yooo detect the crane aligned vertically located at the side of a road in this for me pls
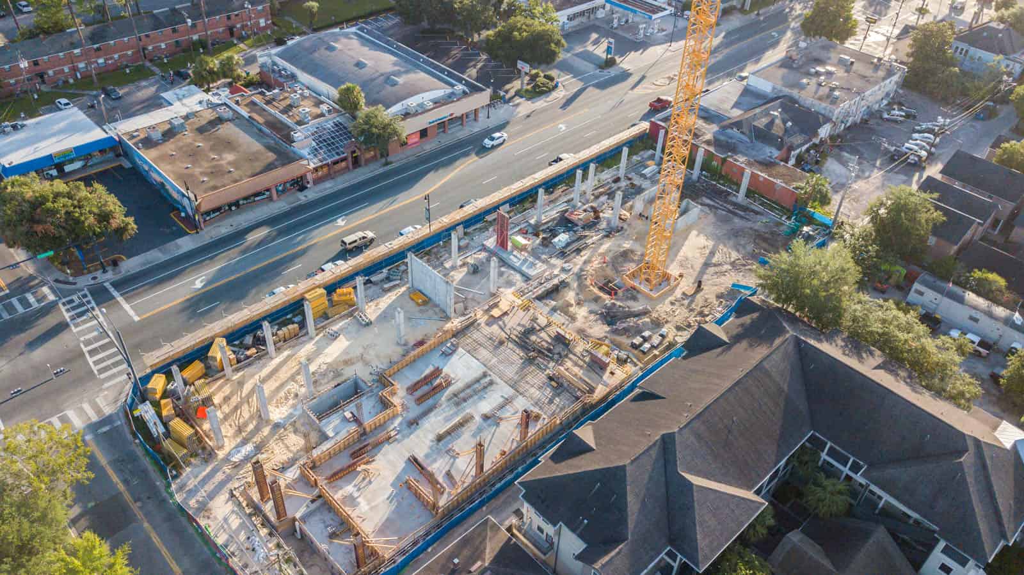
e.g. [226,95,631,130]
[637,0,717,288]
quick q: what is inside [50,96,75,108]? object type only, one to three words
vehicle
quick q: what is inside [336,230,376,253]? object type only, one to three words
vehicle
